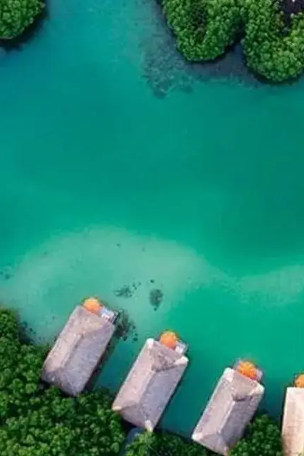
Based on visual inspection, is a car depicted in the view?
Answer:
No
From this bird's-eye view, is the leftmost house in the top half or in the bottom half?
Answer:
bottom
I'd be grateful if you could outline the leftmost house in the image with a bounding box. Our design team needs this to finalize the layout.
[44,302,118,396]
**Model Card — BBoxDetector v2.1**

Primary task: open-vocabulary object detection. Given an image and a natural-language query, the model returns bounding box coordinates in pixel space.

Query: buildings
[284,376,304,456]
[113,336,189,431]
[192,362,264,456]
[44,302,118,396]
